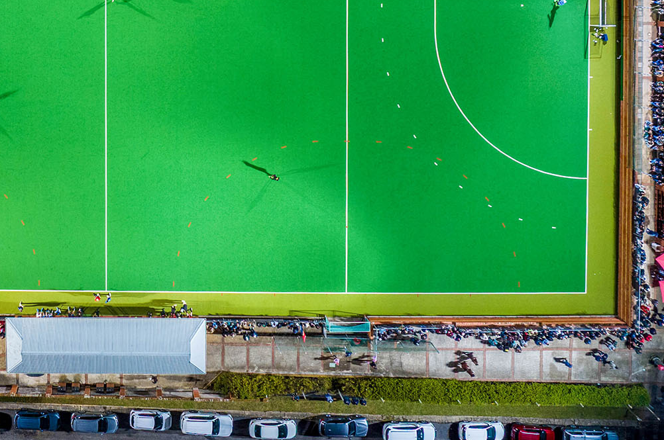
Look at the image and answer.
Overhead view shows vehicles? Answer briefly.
Yes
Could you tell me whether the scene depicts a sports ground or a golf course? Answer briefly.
sports ground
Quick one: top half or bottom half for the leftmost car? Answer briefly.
bottom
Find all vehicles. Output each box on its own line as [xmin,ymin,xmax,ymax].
[130,406,172,433]
[560,425,620,440]
[382,419,437,440]
[248,416,297,440]
[508,421,556,440]
[14,406,61,434]
[457,419,504,440]
[317,412,369,440]
[181,411,233,439]
[71,410,119,435]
